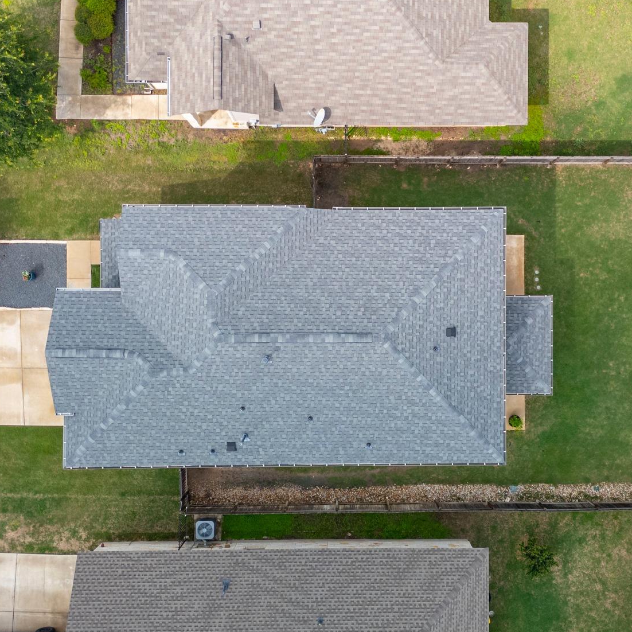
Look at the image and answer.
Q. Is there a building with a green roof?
No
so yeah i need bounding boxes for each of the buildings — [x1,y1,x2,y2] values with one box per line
[110,0,529,132]
[68,538,490,632]
[45,203,554,468]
